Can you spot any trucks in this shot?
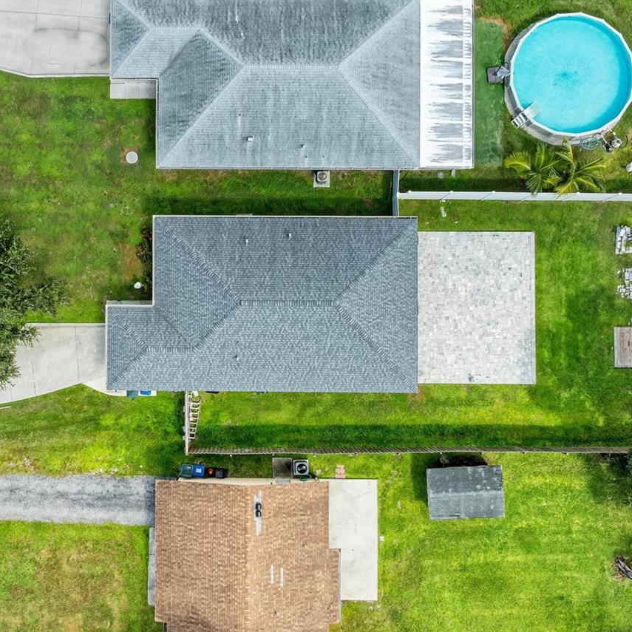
No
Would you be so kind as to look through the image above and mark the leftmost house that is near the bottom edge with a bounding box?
[155,478,343,632]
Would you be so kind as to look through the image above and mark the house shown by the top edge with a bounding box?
[107,0,474,177]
